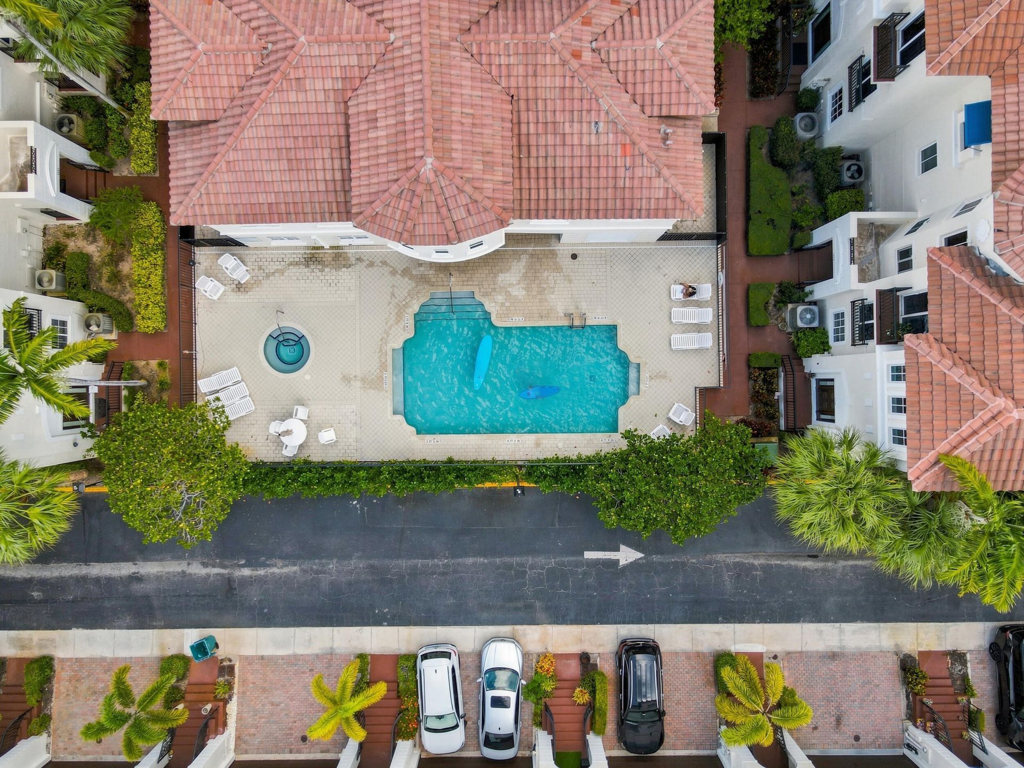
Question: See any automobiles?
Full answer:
Yes, this view includes an automobile.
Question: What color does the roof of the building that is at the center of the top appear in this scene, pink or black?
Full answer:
In this view, the roof of the building that is at the center of the top is pink.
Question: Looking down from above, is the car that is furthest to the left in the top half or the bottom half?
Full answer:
The bottom half of the photo is where the car that is furthest to the left is.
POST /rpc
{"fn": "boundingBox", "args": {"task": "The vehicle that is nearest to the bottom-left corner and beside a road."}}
[413,641,467,751]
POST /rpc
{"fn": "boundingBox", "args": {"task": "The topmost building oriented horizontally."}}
[147,0,718,264]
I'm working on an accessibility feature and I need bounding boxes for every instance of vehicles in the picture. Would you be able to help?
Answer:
[614,638,668,750]
[990,630,1024,742]
[475,638,528,754]
[413,641,467,751]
